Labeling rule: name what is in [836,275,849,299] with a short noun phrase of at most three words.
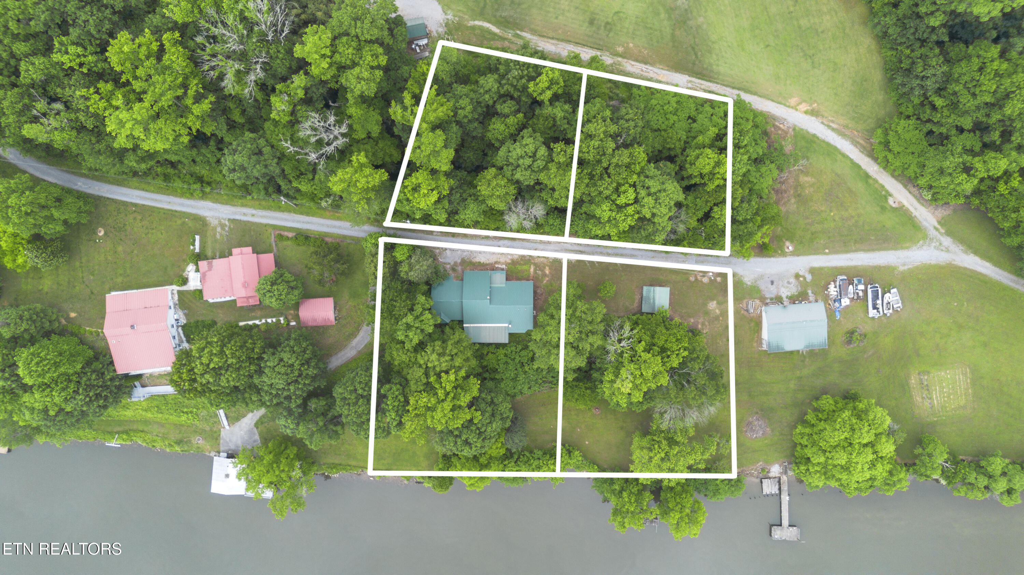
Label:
vehicle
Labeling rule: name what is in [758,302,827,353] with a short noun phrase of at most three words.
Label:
barn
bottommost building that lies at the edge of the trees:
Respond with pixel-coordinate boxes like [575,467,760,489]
[211,456,271,500]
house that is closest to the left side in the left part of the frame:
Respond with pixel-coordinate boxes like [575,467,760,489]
[103,288,176,375]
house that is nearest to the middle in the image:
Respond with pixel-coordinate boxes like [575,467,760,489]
[431,264,533,343]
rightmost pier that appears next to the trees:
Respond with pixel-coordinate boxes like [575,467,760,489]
[770,463,800,542]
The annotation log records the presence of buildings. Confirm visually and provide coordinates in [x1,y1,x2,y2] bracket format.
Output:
[199,247,277,306]
[211,456,271,500]
[431,264,533,343]
[641,286,670,313]
[103,288,176,375]
[299,297,336,326]
[758,302,827,353]
[409,16,428,41]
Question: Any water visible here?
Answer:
Yes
